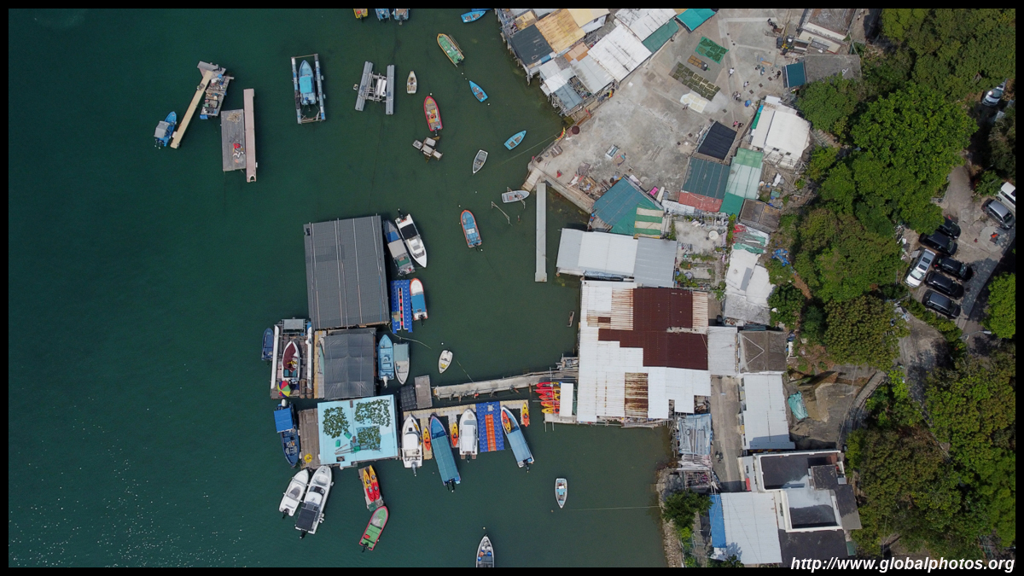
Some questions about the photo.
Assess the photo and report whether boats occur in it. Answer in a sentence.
Yes, this view includes a boat.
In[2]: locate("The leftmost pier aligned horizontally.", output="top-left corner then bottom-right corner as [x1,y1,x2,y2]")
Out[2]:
[403,402,477,421]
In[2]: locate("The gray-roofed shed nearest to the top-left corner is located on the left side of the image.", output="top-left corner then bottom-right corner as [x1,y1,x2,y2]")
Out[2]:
[305,215,393,331]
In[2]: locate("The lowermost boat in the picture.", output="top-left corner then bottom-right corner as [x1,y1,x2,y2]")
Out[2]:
[475,536,495,576]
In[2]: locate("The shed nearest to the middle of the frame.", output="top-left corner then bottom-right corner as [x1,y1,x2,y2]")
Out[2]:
[555,228,638,277]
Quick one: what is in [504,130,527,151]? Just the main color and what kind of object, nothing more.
blue boat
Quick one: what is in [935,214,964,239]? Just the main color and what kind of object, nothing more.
black car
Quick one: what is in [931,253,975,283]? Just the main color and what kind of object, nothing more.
black car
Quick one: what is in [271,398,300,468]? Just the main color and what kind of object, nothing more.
blue boat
